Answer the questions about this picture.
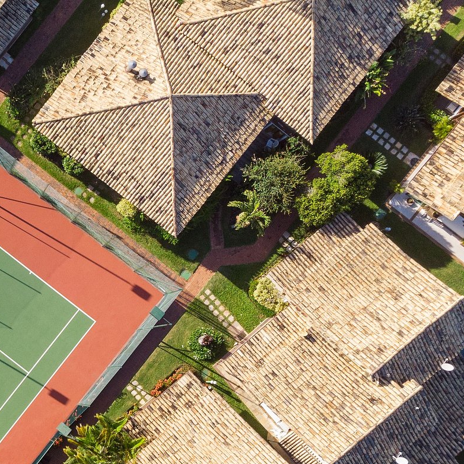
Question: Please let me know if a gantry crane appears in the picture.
No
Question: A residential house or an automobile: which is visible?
residential house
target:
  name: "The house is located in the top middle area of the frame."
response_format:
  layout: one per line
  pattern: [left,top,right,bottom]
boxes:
[31,0,408,239]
